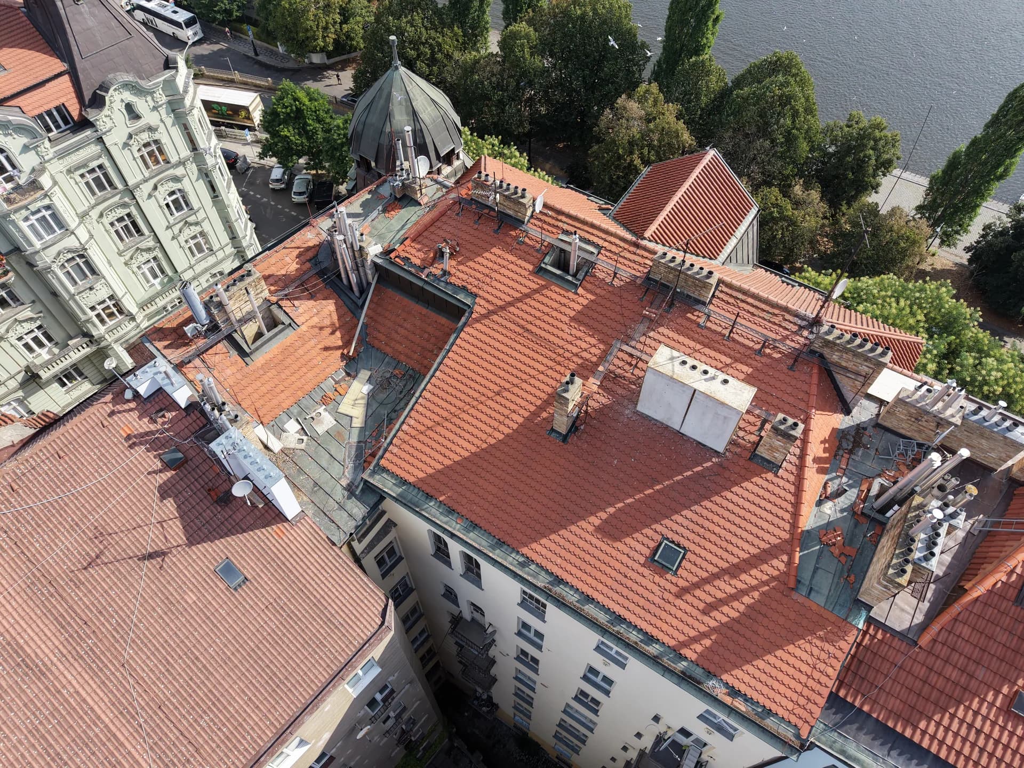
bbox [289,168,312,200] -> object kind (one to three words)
car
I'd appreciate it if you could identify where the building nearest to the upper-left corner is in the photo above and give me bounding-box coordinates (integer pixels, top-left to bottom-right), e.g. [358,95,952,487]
[0,0,264,414]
